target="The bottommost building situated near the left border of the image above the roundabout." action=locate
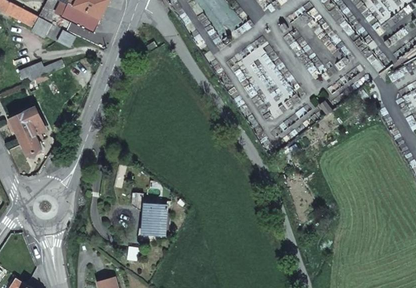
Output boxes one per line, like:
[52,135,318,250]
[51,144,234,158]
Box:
[8,106,44,160]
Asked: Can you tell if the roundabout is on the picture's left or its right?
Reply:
left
